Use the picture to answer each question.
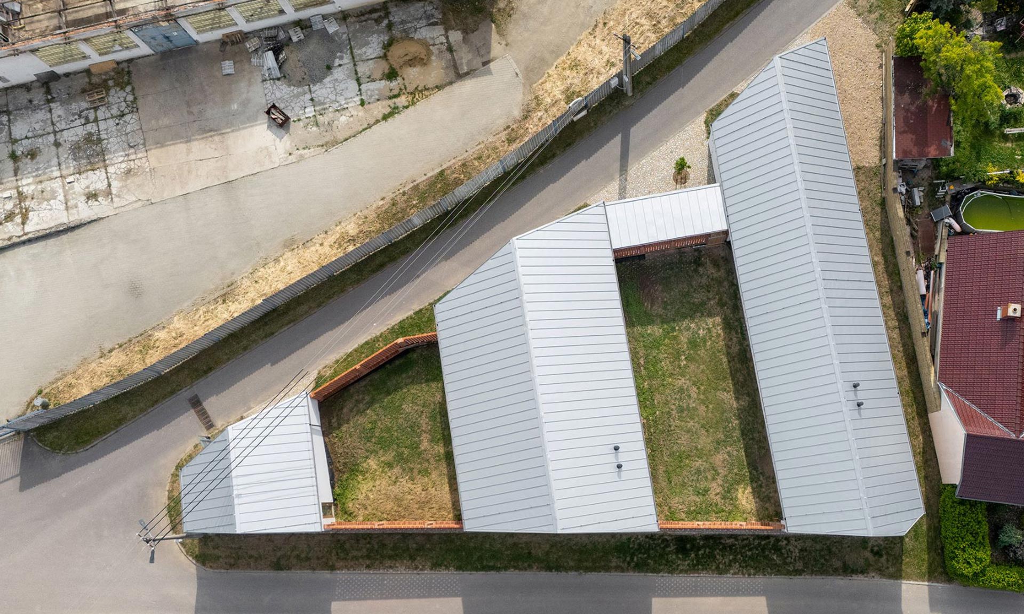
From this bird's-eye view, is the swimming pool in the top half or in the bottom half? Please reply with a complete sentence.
Seen from above, the swimming pool lies in the top half of the view.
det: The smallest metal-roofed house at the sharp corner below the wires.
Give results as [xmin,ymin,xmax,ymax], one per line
[178,391,333,535]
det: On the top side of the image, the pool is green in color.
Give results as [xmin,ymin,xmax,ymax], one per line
[955,190,1024,230]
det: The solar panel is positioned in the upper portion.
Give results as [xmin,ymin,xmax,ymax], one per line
[926,205,952,225]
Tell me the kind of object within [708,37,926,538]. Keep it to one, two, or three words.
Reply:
house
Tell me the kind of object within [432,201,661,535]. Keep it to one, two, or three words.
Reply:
house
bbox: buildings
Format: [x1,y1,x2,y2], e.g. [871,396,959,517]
[0,0,389,88]
[889,56,955,169]
[432,201,661,535]
[178,391,333,535]
[929,227,1024,507]
[708,37,926,538]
